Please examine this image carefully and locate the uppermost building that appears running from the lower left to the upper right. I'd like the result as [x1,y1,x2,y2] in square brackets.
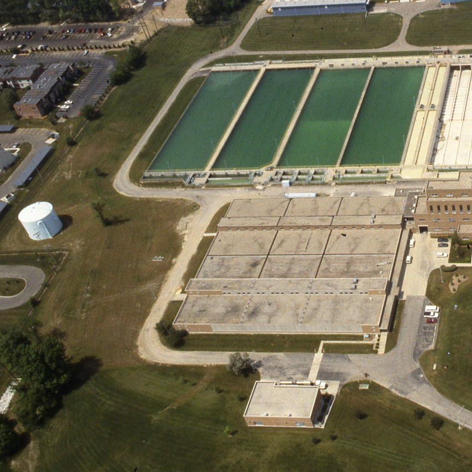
[15,59,82,118]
